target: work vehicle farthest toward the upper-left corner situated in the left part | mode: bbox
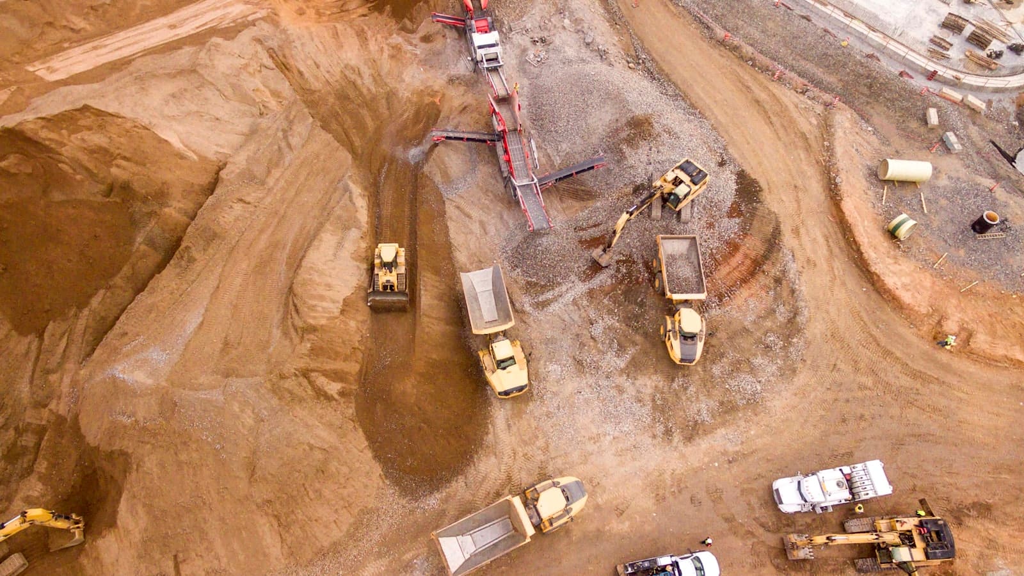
[359,240,408,312]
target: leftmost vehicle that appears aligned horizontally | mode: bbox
[0,504,91,544]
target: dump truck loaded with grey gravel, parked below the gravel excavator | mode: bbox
[654,231,711,366]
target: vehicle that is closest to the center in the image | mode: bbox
[457,261,529,402]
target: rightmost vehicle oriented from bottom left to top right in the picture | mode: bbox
[596,157,710,264]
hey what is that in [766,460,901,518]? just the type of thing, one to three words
truck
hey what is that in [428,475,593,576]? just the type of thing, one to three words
truck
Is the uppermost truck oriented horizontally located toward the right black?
No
